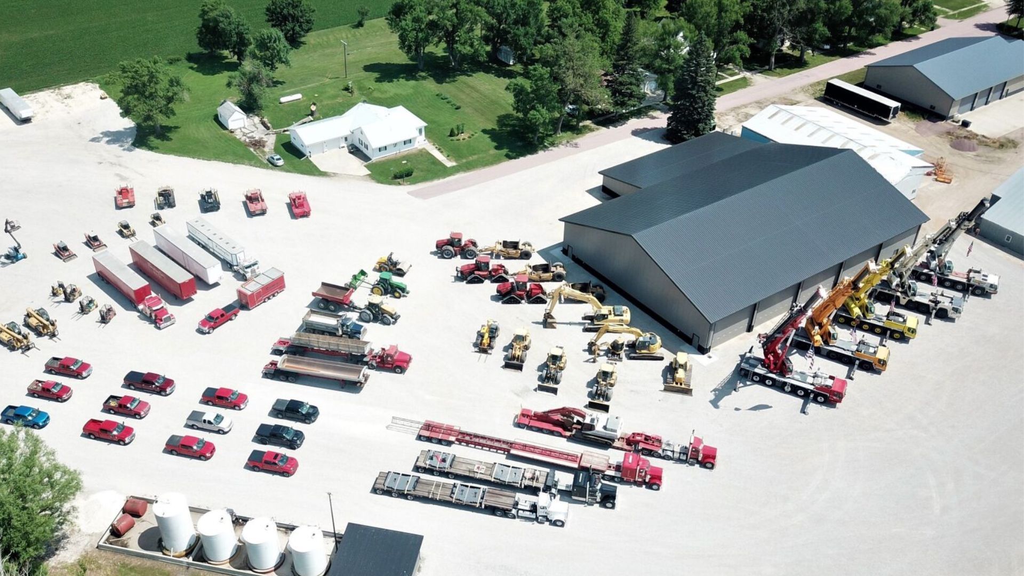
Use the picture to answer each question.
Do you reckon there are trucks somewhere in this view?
Yes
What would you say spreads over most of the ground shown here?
paved ground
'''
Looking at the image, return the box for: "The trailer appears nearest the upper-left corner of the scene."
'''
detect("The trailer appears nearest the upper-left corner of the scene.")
[0,88,36,126]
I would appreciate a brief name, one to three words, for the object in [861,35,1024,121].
building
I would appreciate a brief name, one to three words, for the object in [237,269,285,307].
trailer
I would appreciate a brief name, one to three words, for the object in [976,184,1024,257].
building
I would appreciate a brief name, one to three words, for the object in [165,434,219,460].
truck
